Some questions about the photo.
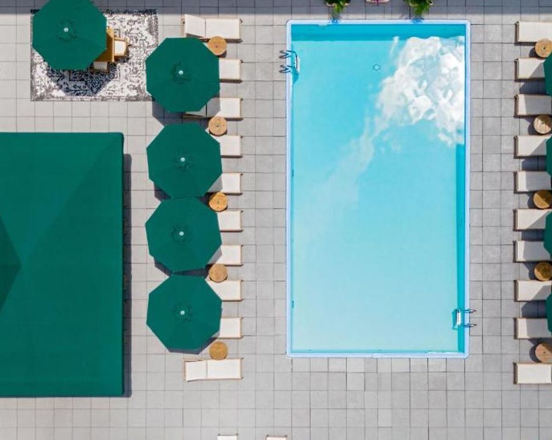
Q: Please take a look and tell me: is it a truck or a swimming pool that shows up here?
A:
swimming pool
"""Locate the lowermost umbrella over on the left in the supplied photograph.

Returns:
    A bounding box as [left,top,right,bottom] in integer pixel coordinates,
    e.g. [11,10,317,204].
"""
[145,276,221,352]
